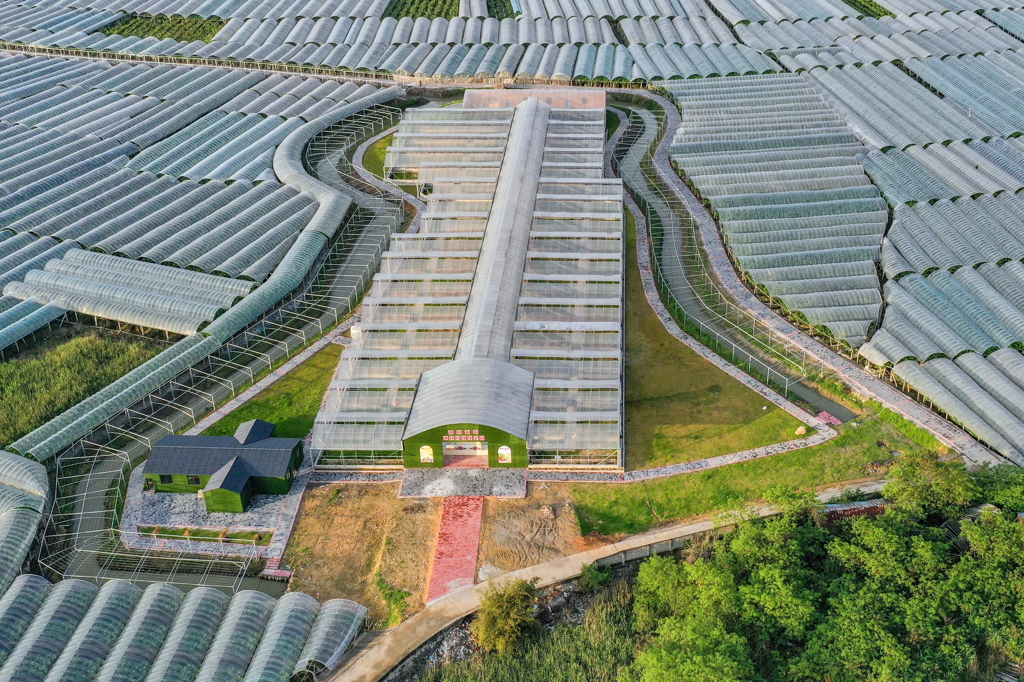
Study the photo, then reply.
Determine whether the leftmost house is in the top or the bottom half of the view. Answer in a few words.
bottom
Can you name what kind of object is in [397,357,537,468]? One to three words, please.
building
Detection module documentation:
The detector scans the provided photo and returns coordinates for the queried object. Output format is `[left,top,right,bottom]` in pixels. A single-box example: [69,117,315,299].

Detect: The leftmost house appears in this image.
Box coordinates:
[136,416,302,512]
